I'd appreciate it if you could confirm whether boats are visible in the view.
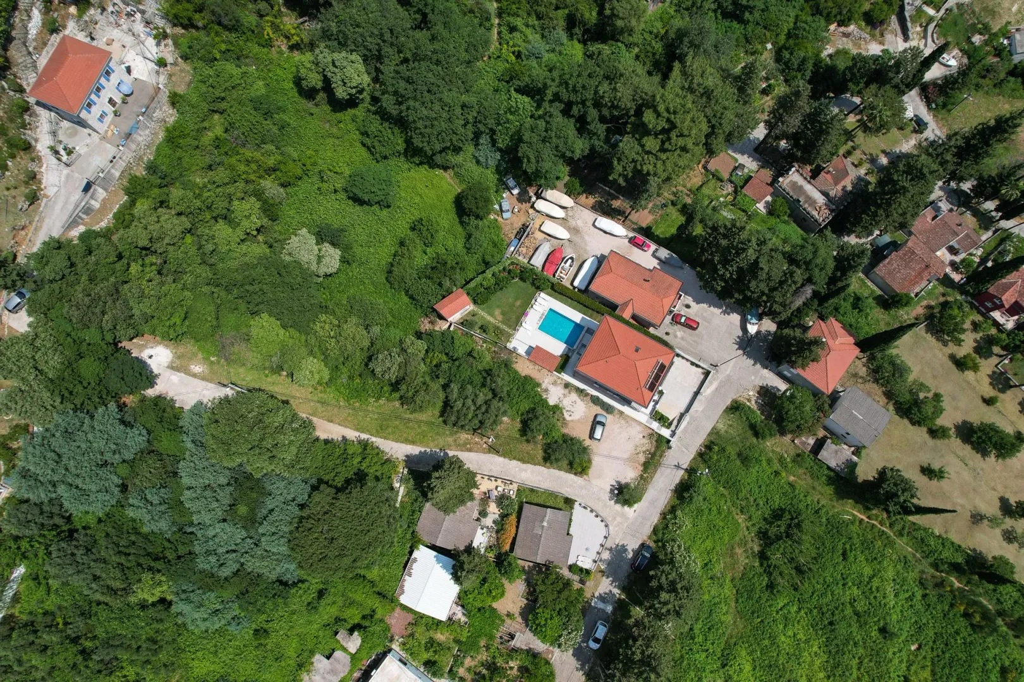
Yes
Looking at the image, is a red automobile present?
Yes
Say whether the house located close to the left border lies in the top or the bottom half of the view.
top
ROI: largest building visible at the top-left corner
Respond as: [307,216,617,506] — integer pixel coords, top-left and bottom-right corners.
[27,34,131,131]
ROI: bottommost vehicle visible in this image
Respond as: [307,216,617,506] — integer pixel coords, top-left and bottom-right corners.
[586,621,608,649]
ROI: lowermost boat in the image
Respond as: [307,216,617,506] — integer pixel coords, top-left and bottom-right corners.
[744,308,760,333]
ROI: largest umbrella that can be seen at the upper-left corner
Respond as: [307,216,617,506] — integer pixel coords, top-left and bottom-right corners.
[120,83,136,98]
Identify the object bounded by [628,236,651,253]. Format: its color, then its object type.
pink car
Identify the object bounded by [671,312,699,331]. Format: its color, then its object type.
red car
